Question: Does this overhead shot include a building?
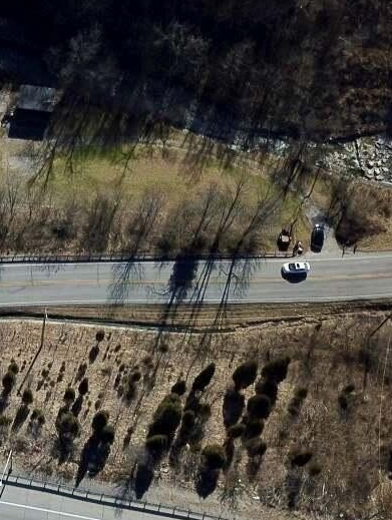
Yes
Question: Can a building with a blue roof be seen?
No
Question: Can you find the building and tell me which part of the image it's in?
top left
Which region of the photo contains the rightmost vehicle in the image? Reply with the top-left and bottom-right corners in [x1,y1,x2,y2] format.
[311,225,326,249]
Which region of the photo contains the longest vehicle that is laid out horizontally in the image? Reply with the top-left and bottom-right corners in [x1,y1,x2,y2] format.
[280,261,312,275]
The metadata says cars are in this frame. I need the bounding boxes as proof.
[280,261,312,275]
[311,225,326,249]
